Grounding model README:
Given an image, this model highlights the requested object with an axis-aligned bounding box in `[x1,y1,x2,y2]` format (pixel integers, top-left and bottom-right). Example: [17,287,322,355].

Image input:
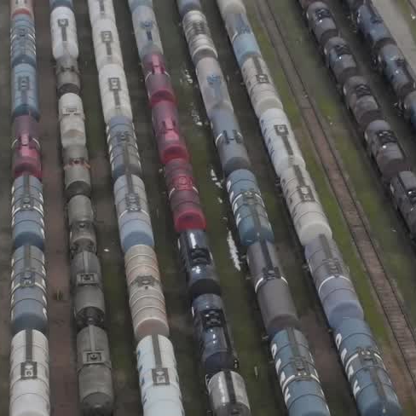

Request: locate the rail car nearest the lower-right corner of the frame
[334,320,402,416]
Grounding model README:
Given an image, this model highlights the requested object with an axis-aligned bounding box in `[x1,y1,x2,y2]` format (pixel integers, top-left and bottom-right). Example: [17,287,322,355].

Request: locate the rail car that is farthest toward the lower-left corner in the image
[9,329,54,416]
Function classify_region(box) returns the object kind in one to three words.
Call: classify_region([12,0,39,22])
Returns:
rail car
